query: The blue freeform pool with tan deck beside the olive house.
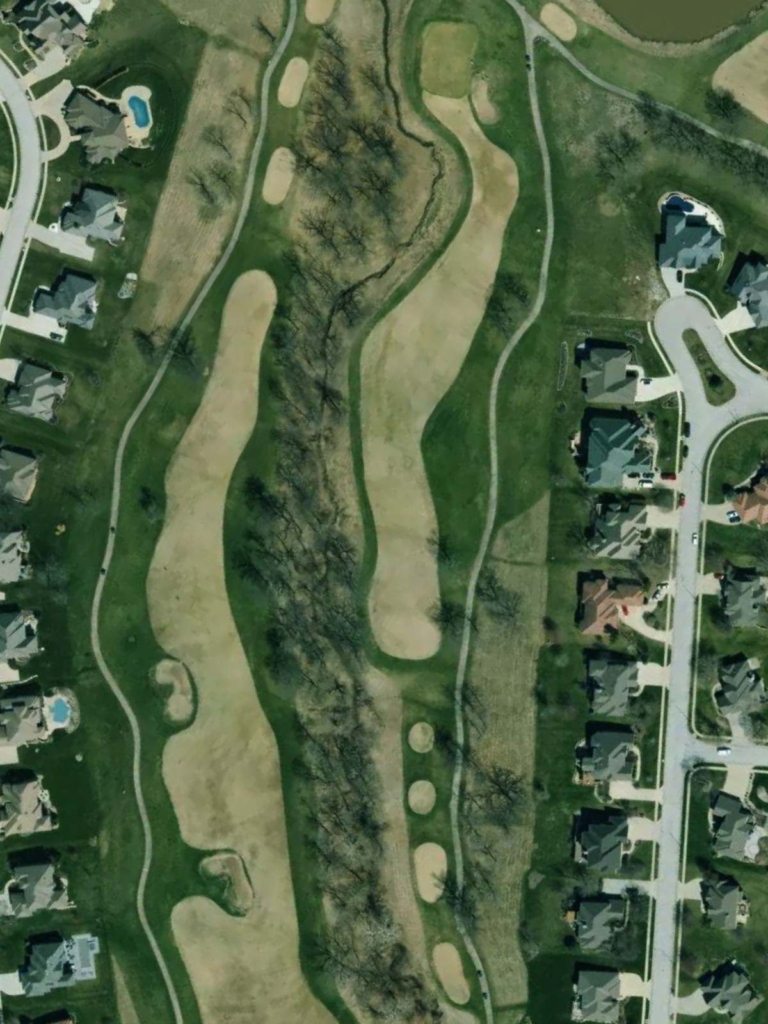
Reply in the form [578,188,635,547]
[120,85,152,147]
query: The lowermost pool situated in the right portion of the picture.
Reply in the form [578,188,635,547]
[660,192,725,236]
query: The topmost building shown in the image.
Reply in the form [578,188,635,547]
[13,0,86,56]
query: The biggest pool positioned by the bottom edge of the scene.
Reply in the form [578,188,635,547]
[65,934,99,980]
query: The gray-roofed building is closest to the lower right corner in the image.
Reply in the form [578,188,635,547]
[704,970,752,1013]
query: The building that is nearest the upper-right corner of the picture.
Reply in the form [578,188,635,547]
[659,215,722,266]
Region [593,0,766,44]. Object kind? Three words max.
pond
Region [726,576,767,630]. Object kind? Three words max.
house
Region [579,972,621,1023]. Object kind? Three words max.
house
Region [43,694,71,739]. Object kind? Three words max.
swimming pool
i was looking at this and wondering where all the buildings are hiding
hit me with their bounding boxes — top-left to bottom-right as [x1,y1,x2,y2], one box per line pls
[6,363,66,420]
[734,476,768,525]
[704,970,752,1013]
[707,879,739,930]
[586,418,652,487]
[10,865,67,920]
[581,817,630,872]
[726,576,767,630]
[0,696,43,748]
[62,187,127,240]
[580,900,624,949]
[0,612,38,664]
[0,449,35,500]
[61,90,127,164]
[579,972,621,1023]
[0,782,51,838]
[578,579,645,631]
[716,660,767,712]
[732,261,768,328]
[13,0,86,56]
[581,348,637,403]
[589,661,639,717]
[35,273,99,328]
[19,943,75,998]
[582,733,634,782]
[713,797,755,861]
[0,530,21,583]
[659,215,722,266]
[595,504,648,558]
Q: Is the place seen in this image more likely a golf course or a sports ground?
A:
golf course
